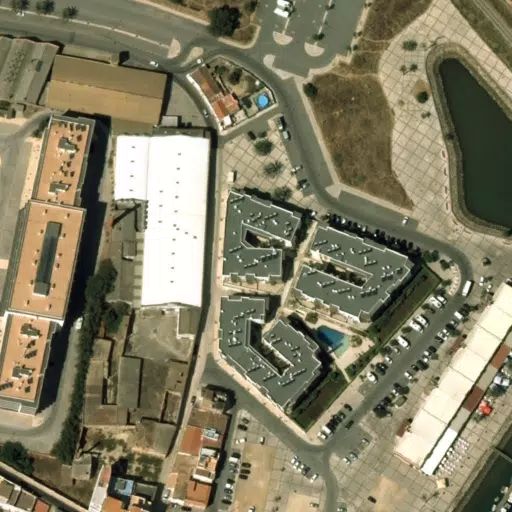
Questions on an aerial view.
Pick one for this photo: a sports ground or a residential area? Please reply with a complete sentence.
The area seen from above is a residential area.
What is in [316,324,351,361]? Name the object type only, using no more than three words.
swimming pool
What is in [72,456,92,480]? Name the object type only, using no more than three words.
shed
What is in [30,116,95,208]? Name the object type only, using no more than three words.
building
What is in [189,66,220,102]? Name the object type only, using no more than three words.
house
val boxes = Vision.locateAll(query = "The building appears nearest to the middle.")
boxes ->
[220,192,300,280]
